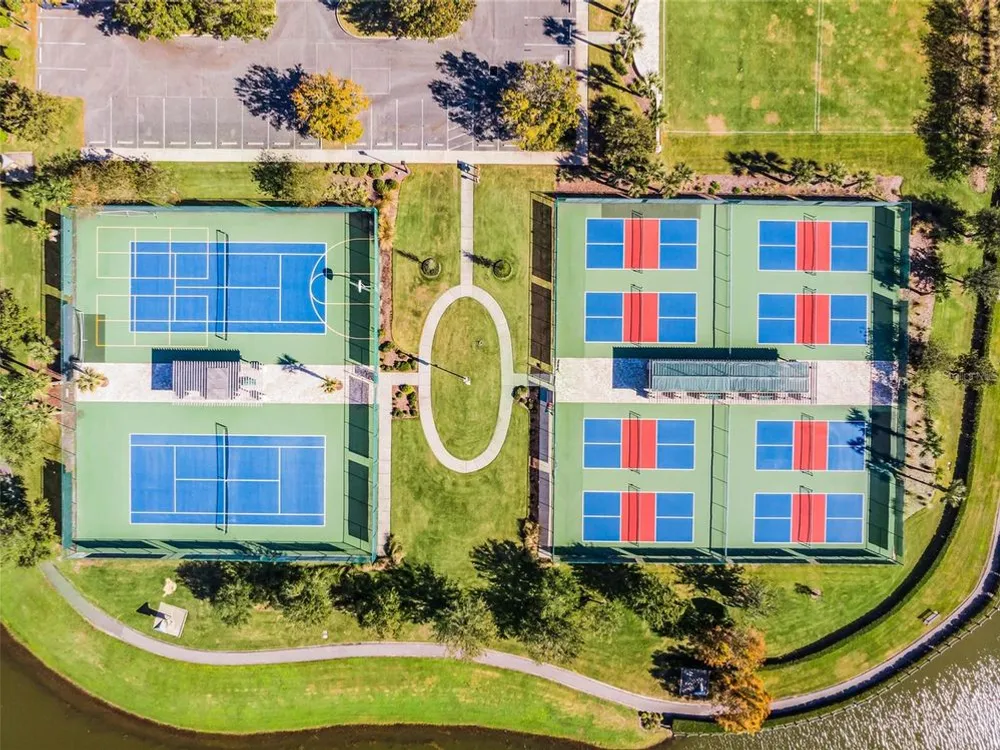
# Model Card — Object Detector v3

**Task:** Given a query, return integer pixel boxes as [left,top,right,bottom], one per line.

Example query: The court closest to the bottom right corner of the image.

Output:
[754,492,864,543]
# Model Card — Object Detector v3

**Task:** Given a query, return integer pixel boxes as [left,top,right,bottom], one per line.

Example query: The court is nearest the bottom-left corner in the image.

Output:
[130,434,326,526]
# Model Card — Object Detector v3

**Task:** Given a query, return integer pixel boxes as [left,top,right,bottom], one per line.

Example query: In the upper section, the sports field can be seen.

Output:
[663,0,924,133]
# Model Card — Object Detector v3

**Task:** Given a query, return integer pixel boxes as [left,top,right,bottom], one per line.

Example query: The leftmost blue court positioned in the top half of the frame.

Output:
[130,241,326,335]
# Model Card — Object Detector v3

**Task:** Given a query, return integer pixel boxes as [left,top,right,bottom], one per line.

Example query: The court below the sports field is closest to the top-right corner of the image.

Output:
[758,220,869,271]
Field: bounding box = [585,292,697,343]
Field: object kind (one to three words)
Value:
sports court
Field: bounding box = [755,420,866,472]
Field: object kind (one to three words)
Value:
sports court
